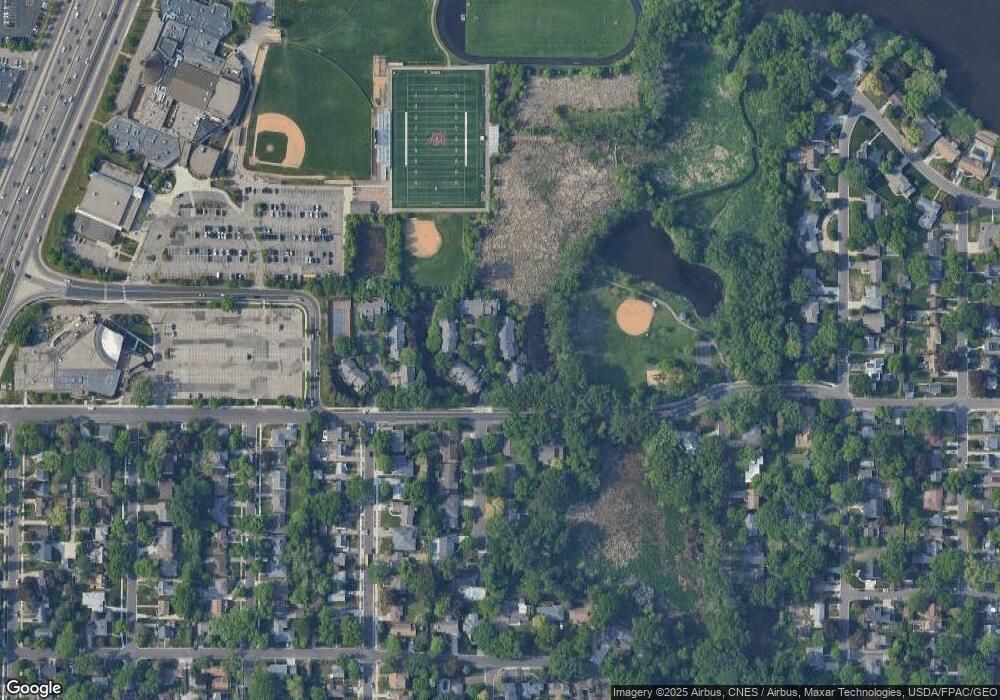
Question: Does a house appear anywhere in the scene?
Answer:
Yes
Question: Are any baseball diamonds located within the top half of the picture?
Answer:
Yes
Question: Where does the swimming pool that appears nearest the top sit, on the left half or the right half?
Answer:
right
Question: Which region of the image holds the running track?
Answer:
top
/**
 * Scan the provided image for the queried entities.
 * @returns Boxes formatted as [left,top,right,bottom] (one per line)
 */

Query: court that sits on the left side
[329,300,351,341]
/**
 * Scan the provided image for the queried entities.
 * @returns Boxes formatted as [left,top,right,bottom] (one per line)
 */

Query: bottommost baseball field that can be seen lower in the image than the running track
[616,299,654,336]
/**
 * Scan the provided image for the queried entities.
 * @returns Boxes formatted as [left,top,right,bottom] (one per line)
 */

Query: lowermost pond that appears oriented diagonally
[600,208,723,318]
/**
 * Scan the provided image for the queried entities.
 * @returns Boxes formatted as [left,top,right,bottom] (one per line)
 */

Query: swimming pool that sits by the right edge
[970,143,991,162]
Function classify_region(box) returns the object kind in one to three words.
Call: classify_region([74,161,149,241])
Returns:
building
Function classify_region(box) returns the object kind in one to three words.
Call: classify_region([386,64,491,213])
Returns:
sports field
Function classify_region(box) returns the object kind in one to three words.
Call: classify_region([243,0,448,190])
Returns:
baseball field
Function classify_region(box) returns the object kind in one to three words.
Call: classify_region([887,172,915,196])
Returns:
house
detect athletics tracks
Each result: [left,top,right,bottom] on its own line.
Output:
[437,0,643,65]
